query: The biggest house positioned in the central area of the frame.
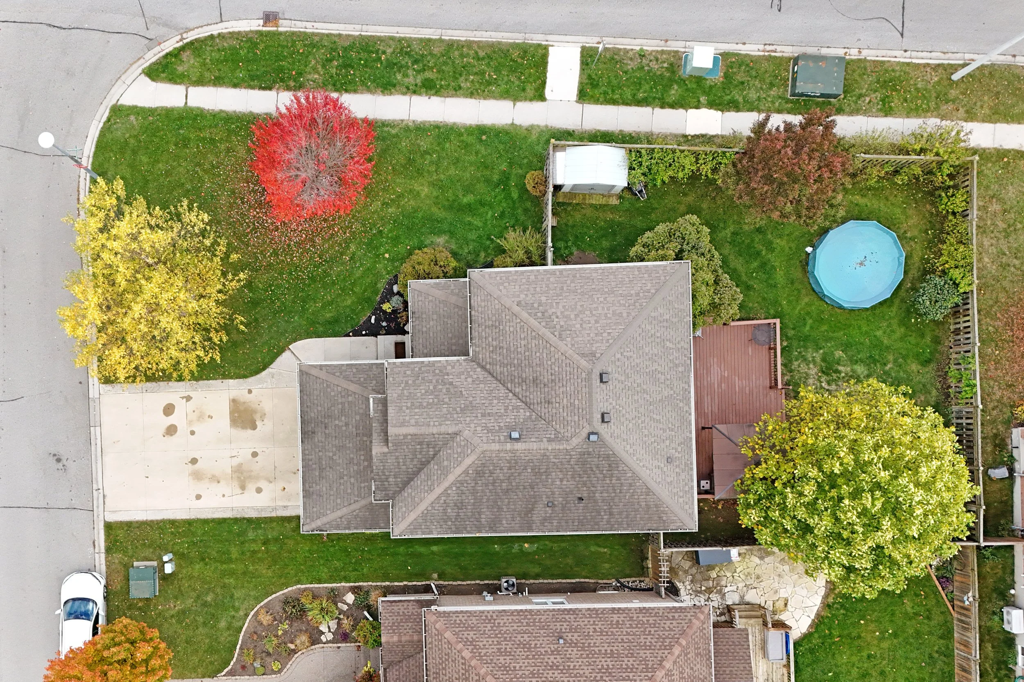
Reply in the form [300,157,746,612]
[298,260,697,538]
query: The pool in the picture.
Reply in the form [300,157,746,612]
[808,220,905,309]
